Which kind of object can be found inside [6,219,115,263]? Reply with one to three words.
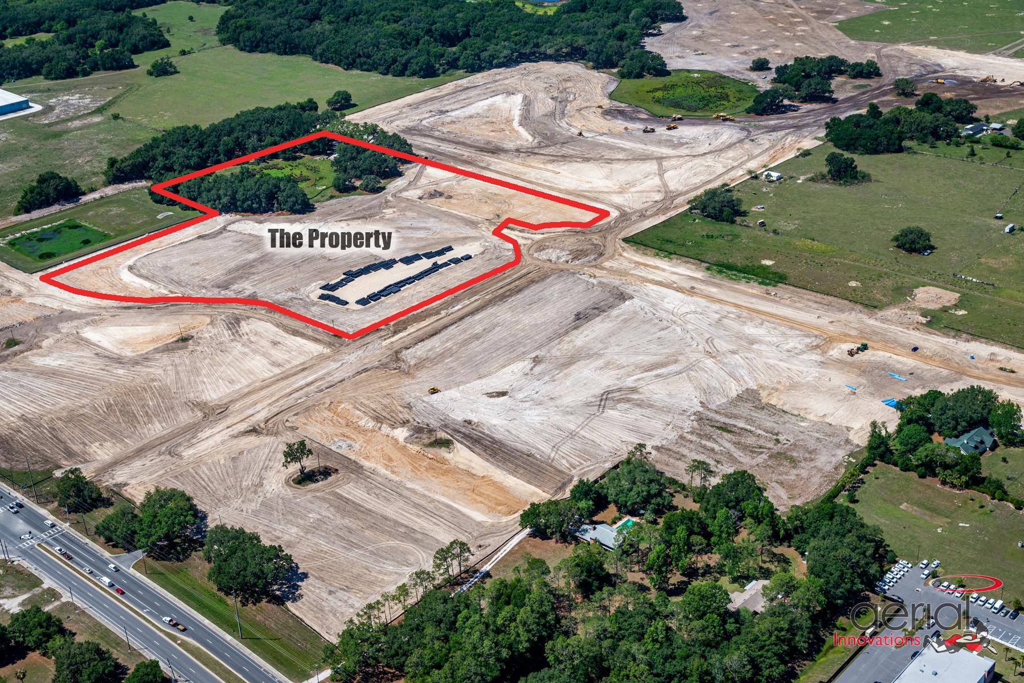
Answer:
pond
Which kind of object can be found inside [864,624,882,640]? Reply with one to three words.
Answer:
vehicle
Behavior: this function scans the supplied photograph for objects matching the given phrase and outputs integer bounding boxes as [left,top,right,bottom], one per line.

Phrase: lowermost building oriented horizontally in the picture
[897,637,998,683]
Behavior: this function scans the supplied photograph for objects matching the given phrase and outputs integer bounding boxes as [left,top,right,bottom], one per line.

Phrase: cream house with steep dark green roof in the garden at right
[937,427,1002,464]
